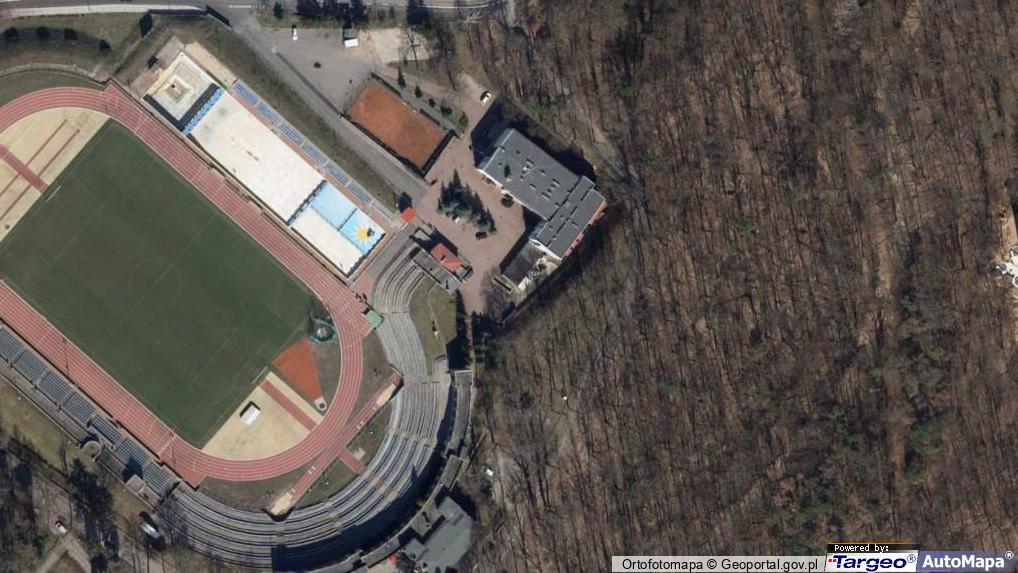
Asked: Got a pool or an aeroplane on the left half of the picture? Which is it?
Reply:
pool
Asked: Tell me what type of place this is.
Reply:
sports ground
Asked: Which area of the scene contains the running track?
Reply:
left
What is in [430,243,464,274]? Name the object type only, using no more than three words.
house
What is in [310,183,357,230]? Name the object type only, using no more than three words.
swimming pool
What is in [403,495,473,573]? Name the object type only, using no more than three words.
building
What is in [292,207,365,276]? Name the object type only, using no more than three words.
swimming pool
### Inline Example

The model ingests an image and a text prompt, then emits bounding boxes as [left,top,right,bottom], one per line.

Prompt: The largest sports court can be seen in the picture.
[344,77,449,169]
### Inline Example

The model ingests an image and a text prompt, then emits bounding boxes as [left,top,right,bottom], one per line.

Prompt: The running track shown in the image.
[0,79,384,488]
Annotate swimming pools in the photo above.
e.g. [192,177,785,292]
[184,90,326,224]
[310,183,357,230]
[292,207,365,276]
[338,208,386,255]
[143,52,218,128]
